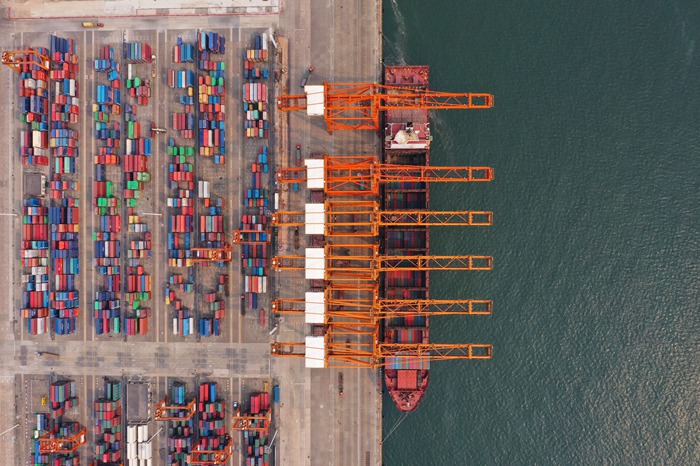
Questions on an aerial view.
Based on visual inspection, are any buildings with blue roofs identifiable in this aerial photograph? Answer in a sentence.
No, I can't see a single building with a blue roof in this photo.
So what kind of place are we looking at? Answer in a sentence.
The picture captures a port.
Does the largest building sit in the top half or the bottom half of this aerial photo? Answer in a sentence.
It is in the bottom half that the largest building appears.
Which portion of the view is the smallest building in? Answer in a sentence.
The smallest building appears toward the left of the photo.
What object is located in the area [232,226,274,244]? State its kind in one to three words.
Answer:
container crane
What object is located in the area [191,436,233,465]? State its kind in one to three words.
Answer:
container crane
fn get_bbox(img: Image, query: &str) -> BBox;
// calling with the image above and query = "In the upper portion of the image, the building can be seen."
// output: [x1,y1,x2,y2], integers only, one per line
[25,174,46,199]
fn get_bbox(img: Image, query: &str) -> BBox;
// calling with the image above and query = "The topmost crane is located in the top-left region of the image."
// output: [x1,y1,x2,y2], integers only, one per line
[1,47,53,74]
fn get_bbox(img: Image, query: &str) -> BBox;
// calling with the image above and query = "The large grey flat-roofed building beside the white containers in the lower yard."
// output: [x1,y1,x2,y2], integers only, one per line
[126,381,151,422]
